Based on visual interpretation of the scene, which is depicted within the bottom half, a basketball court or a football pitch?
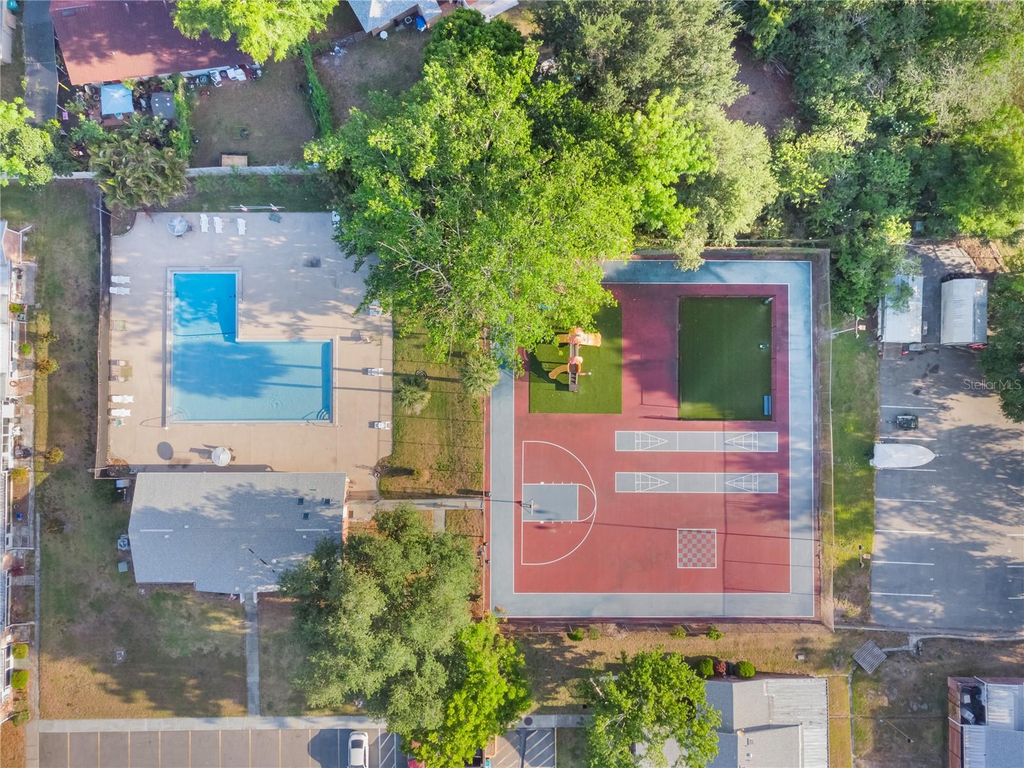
basketball court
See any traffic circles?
No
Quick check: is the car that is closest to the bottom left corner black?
No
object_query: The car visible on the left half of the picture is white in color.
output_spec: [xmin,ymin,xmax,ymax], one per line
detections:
[347,728,370,768]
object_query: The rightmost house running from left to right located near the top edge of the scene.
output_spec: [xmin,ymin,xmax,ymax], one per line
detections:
[350,0,442,39]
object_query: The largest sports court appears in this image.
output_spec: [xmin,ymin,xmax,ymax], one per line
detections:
[484,253,821,624]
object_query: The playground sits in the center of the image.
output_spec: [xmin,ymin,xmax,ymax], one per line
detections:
[529,296,622,413]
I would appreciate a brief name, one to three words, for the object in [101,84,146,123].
gazebo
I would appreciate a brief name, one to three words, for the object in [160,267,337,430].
swimming pool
